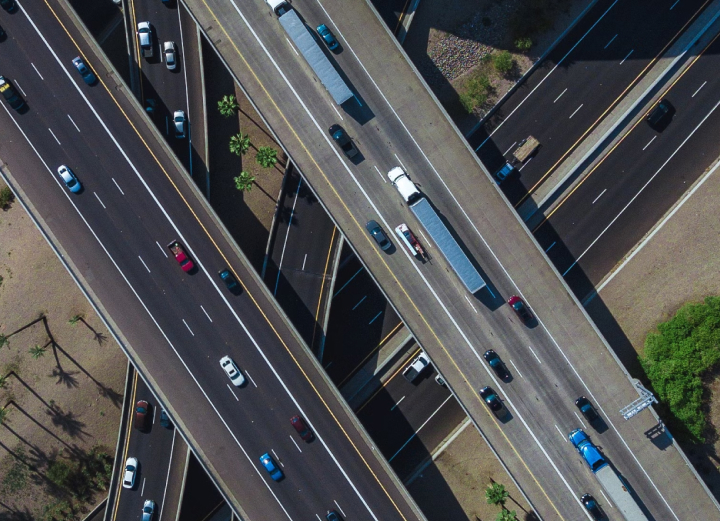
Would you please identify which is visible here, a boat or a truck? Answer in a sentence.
Looking from above, you can make out a truck.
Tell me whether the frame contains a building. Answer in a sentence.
No, there's no building here.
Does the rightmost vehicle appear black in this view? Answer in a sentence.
Yes, the rightmost vehicle is black.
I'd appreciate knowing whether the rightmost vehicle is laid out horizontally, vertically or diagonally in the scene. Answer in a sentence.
Seen from above, the rightmost vehicle lies diagonally.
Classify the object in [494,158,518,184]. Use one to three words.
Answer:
vehicle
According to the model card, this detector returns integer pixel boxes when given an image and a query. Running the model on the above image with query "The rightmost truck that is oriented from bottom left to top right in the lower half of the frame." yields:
[401,352,429,381]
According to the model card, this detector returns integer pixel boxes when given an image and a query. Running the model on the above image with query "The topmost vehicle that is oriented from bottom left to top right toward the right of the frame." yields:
[645,99,671,126]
